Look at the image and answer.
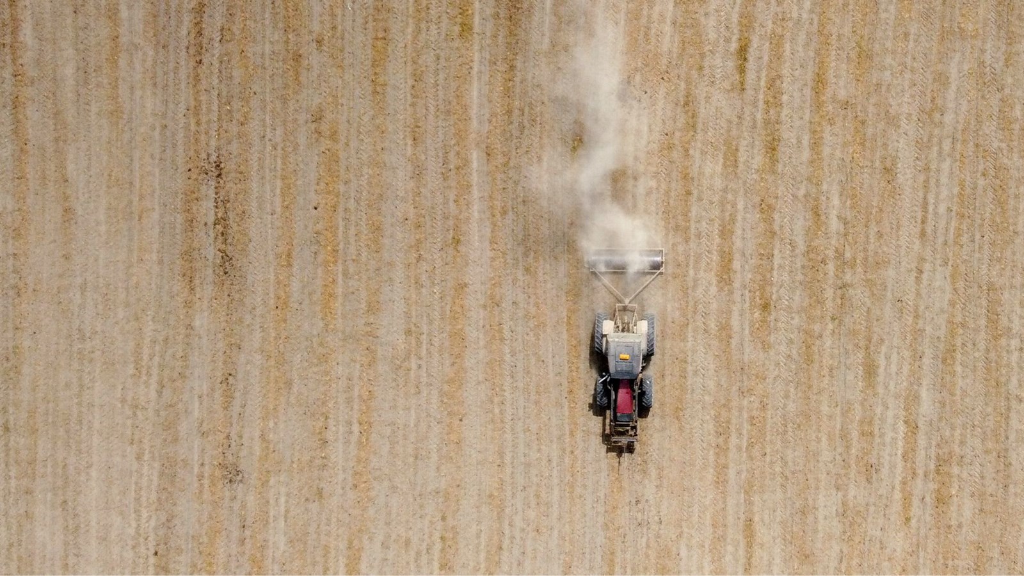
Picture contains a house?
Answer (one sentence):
No, no house can be seen from above.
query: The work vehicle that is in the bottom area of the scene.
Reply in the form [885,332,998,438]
[595,304,655,462]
